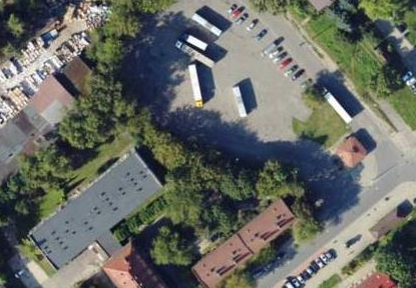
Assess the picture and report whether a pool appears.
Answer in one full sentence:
No, I can see no pool in this picture.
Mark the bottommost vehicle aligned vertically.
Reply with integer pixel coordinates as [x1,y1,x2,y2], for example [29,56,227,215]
[233,86,246,117]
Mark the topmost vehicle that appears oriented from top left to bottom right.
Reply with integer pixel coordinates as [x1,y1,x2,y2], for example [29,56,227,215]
[192,13,222,36]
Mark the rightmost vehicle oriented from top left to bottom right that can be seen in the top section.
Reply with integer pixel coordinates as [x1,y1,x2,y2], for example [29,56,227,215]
[321,89,351,124]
